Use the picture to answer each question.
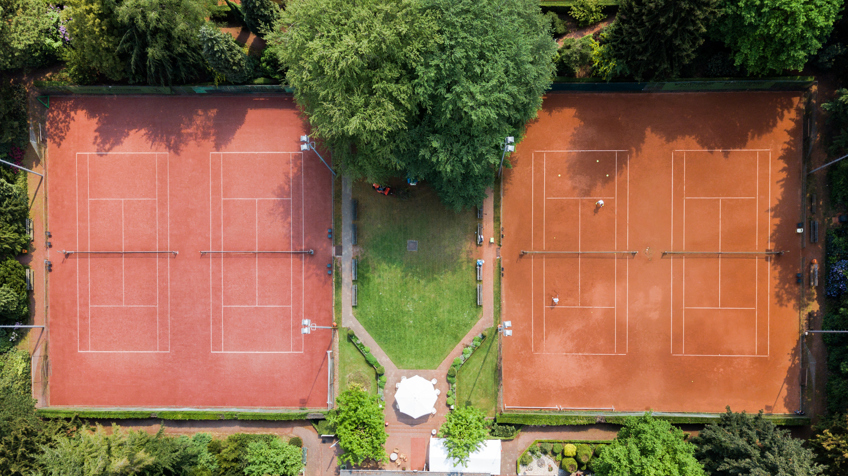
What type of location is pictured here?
sports ground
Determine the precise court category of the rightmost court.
tennis court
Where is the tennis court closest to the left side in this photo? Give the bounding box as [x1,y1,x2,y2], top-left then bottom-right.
[48,97,190,409]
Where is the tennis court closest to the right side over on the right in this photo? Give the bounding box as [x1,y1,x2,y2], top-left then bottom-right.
[650,92,804,414]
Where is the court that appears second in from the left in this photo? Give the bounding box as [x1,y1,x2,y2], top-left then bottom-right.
[190,97,333,409]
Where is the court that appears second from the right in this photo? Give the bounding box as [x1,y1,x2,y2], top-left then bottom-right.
[502,93,650,411]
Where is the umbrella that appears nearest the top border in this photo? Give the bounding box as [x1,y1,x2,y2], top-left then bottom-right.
[394,375,439,421]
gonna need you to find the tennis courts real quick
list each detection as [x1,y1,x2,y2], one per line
[190,97,333,409]
[48,97,190,409]
[502,93,650,411]
[650,92,804,414]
